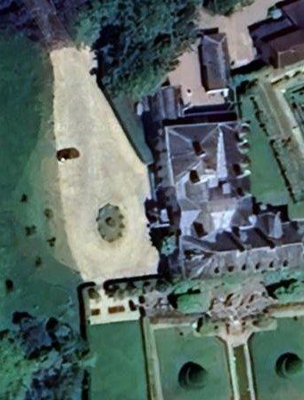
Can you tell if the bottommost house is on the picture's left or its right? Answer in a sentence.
It is on the right.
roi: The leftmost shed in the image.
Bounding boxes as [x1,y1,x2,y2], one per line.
[145,86,192,122]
